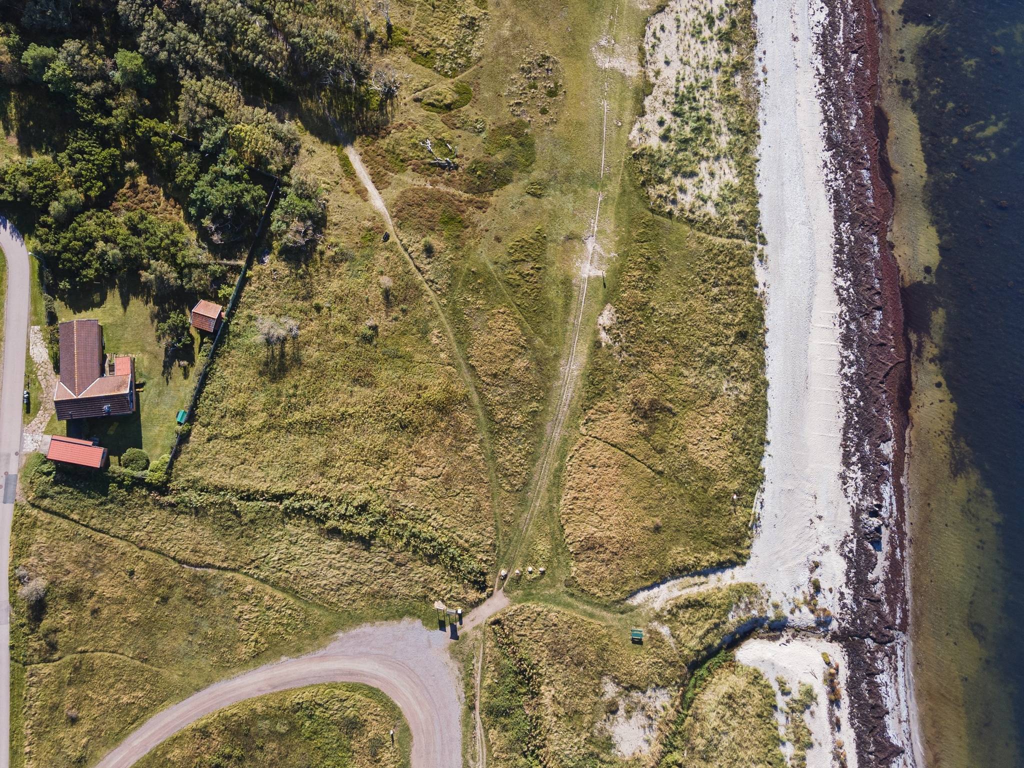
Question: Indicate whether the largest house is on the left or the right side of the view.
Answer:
left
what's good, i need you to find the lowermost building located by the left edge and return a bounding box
[46,435,111,468]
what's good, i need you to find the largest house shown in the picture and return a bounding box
[53,319,140,420]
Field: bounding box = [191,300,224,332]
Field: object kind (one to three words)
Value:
shed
